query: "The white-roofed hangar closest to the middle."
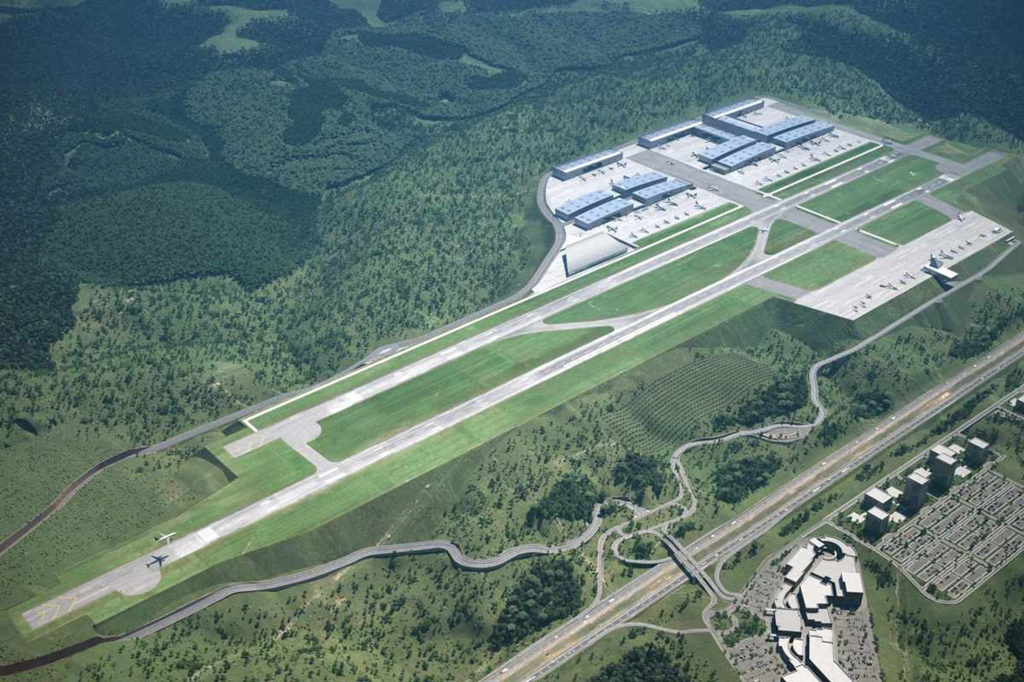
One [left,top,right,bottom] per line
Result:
[566,232,628,276]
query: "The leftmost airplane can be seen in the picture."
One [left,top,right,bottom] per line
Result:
[152,530,176,544]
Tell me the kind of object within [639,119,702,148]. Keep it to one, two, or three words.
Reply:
shed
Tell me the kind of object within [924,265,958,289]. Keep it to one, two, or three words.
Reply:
building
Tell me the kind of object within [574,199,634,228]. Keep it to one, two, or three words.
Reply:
hangar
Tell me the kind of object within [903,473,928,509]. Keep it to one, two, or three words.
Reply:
building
